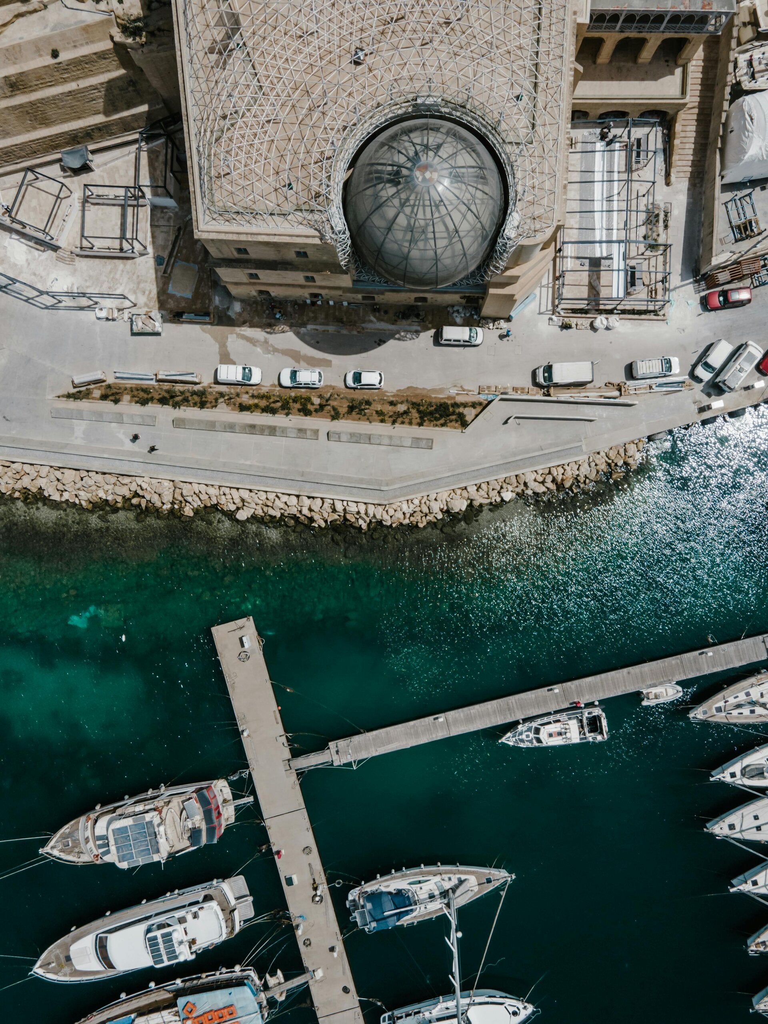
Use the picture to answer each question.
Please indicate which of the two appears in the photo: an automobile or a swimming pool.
automobile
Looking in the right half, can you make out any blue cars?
No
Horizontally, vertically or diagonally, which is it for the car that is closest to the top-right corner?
horizontally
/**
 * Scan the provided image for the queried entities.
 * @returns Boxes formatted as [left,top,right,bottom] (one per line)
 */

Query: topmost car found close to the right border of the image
[701,287,754,313]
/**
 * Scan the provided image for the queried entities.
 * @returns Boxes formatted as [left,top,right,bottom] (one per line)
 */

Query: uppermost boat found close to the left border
[5,771,264,879]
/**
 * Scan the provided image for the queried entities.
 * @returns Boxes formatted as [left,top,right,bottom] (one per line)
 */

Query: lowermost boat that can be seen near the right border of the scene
[743,983,768,1017]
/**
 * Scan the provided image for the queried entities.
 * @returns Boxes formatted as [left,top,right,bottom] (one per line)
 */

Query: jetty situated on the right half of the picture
[329,633,768,765]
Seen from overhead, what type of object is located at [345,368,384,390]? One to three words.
car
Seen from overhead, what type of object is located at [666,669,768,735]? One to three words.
boat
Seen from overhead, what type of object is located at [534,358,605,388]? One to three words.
van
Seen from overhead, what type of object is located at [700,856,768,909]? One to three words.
boat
